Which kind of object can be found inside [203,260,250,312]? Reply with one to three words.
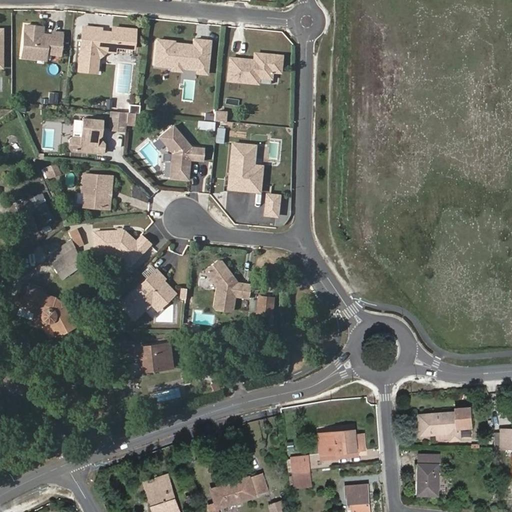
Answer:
house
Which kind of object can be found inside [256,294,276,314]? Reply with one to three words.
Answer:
shed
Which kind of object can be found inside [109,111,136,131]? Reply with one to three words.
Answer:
building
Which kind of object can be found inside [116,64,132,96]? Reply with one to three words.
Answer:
swimming pool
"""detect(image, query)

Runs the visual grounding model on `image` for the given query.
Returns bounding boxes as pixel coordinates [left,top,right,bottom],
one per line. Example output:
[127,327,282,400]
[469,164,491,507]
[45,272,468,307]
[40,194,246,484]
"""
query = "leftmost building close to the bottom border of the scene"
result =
[143,474,180,512]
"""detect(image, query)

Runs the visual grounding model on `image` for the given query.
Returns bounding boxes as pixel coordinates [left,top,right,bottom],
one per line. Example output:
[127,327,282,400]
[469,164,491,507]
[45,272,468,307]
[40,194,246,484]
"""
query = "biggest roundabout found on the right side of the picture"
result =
[344,312,423,386]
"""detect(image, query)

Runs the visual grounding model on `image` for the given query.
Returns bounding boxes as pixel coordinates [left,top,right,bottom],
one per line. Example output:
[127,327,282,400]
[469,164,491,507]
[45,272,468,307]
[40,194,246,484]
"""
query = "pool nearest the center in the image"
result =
[193,310,214,326]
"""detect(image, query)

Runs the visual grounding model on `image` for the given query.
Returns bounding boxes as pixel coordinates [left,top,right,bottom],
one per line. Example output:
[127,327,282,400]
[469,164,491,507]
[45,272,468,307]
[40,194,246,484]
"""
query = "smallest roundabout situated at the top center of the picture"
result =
[288,2,326,40]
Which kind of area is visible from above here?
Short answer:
residential area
